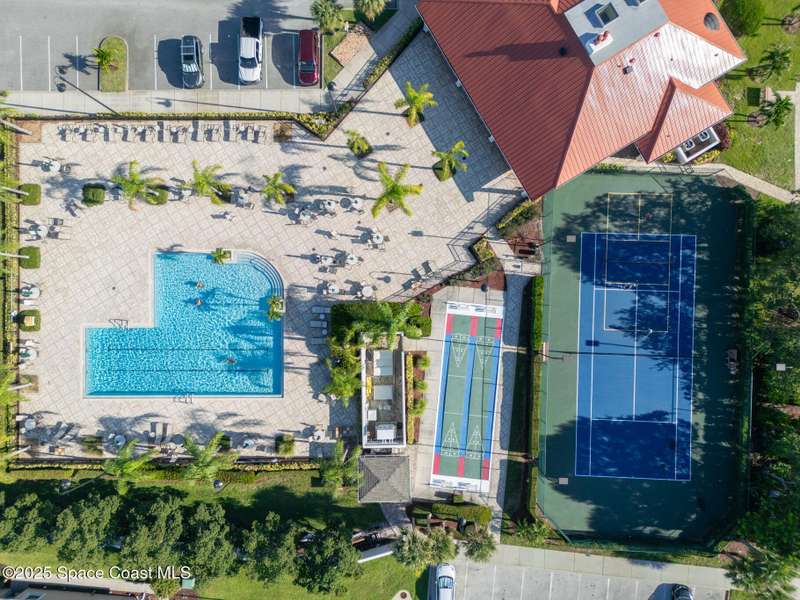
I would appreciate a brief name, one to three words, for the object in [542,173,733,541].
tennis court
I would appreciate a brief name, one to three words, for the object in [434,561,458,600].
car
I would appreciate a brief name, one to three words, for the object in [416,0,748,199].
building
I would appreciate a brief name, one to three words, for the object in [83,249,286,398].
swimming pool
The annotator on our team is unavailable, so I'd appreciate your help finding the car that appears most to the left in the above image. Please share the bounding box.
[177,34,204,90]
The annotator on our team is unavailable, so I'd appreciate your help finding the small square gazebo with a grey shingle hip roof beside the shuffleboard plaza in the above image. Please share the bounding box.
[359,450,411,503]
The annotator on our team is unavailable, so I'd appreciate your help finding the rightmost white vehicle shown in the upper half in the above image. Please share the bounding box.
[237,16,263,84]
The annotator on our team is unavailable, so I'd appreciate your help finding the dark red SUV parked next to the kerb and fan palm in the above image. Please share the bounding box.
[295,29,321,88]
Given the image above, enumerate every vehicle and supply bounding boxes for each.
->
[434,561,458,600]
[295,29,321,88]
[177,34,204,90]
[237,16,263,84]
[672,583,696,600]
